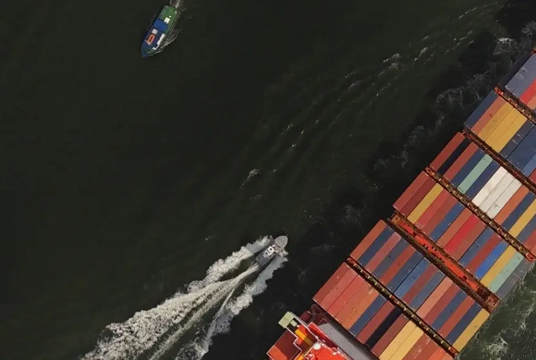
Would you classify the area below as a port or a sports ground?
port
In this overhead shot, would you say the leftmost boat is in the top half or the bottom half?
top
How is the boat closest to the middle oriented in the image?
diagonally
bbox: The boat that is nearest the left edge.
[140,5,179,56]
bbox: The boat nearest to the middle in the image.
[254,234,286,266]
